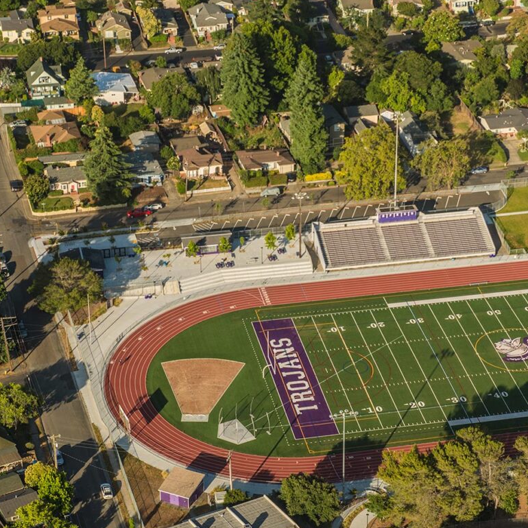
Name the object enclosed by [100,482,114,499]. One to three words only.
car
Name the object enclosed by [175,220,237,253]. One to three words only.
shed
